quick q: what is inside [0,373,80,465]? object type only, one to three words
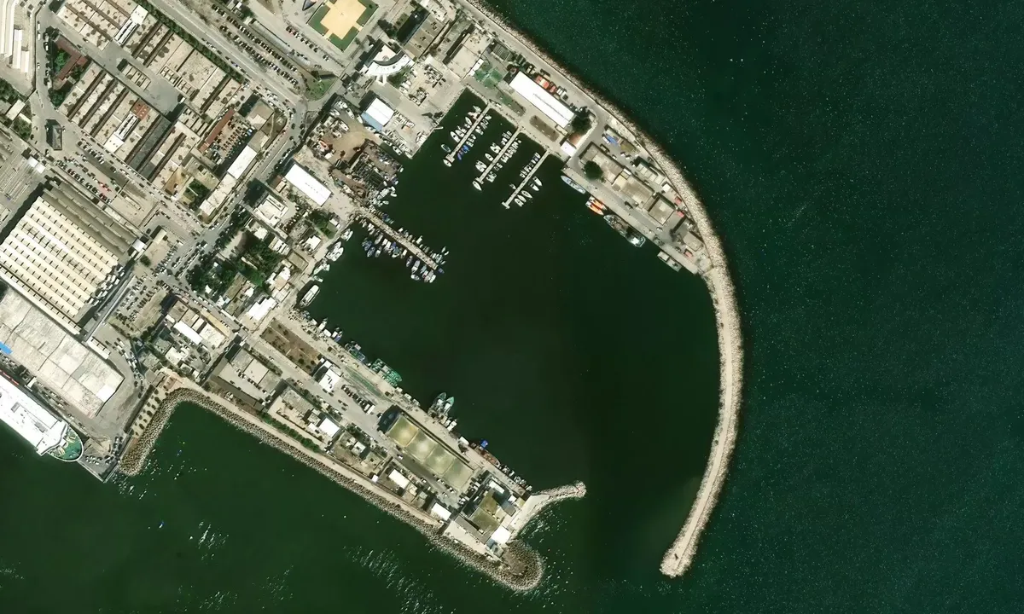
ship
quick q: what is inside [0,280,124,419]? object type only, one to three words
warehouse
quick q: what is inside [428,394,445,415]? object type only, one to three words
boat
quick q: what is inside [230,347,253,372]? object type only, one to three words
building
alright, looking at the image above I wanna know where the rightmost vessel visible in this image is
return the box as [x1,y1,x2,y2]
[658,251,681,271]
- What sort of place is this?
port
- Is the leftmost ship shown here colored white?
Yes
